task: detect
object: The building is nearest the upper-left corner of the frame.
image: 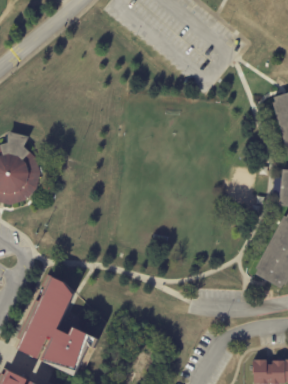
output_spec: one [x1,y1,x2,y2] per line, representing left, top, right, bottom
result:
[0,133,39,205]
